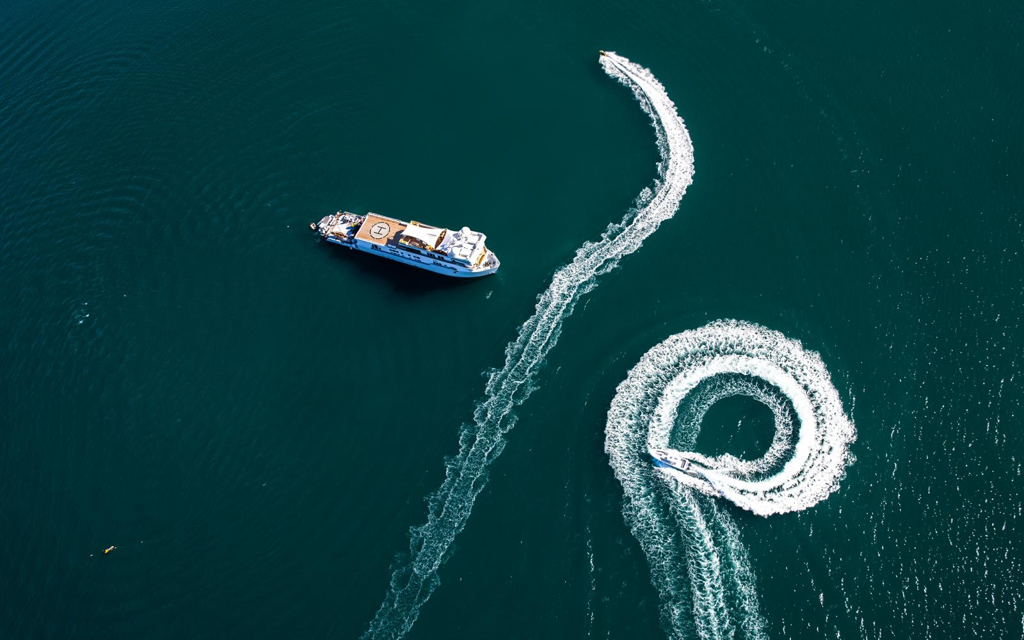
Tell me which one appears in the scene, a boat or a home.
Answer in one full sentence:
I can see a boat in this picture.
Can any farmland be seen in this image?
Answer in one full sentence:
No, there is no farmland in the image.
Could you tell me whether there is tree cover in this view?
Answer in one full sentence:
No, no tree cover is visible.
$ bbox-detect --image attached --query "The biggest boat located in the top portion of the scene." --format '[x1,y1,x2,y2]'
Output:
[319,211,501,277]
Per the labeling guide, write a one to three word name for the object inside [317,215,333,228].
boat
